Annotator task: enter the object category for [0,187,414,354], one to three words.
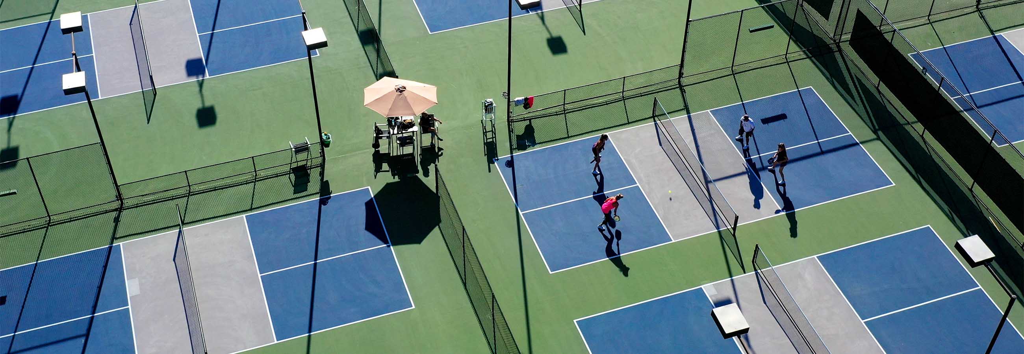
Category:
sports court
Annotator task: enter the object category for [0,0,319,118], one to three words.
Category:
sports court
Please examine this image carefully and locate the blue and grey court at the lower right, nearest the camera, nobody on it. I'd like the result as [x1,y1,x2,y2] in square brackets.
[575,226,1024,354]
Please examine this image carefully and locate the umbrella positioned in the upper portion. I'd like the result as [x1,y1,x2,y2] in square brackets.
[364,77,438,121]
